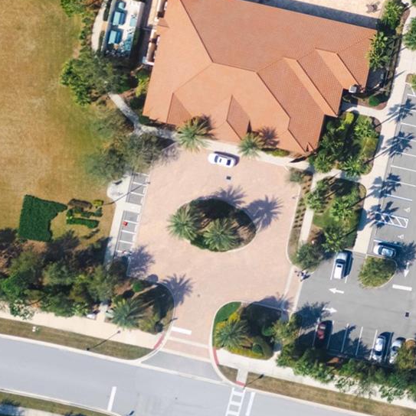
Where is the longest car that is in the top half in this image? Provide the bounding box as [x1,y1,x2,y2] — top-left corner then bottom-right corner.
[207,153,235,169]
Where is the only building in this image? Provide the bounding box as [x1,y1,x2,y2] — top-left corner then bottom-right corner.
[142,0,378,158]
